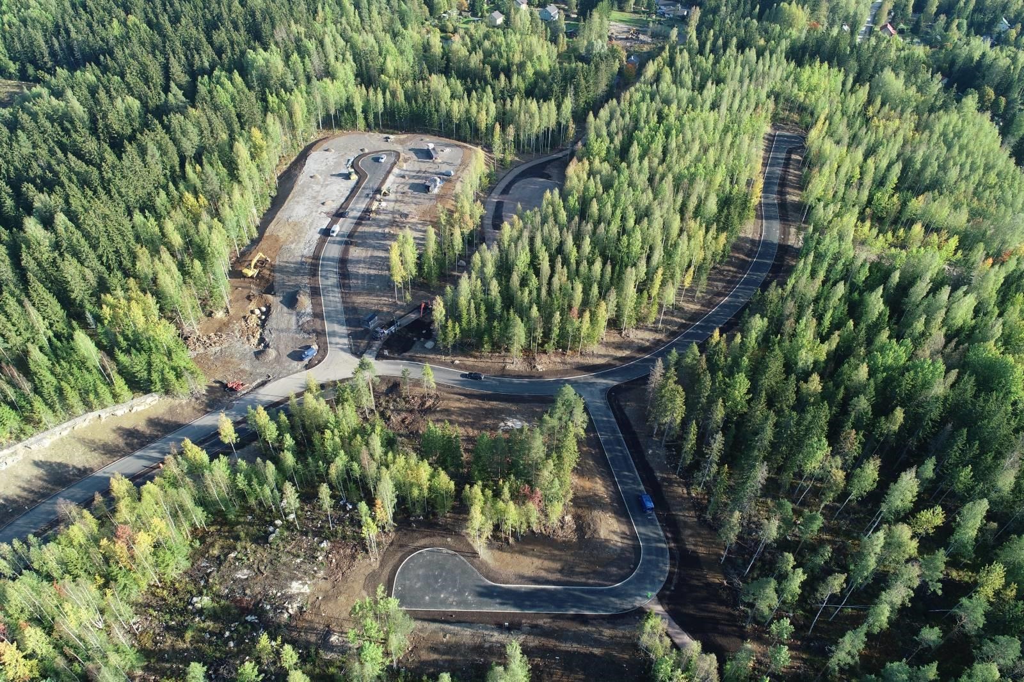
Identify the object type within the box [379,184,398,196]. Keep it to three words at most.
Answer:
vehicle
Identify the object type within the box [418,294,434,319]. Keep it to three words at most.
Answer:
work vehicle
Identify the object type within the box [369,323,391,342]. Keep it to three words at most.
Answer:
vehicle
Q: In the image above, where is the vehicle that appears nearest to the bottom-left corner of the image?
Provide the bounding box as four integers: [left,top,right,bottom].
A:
[301,341,318,358]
